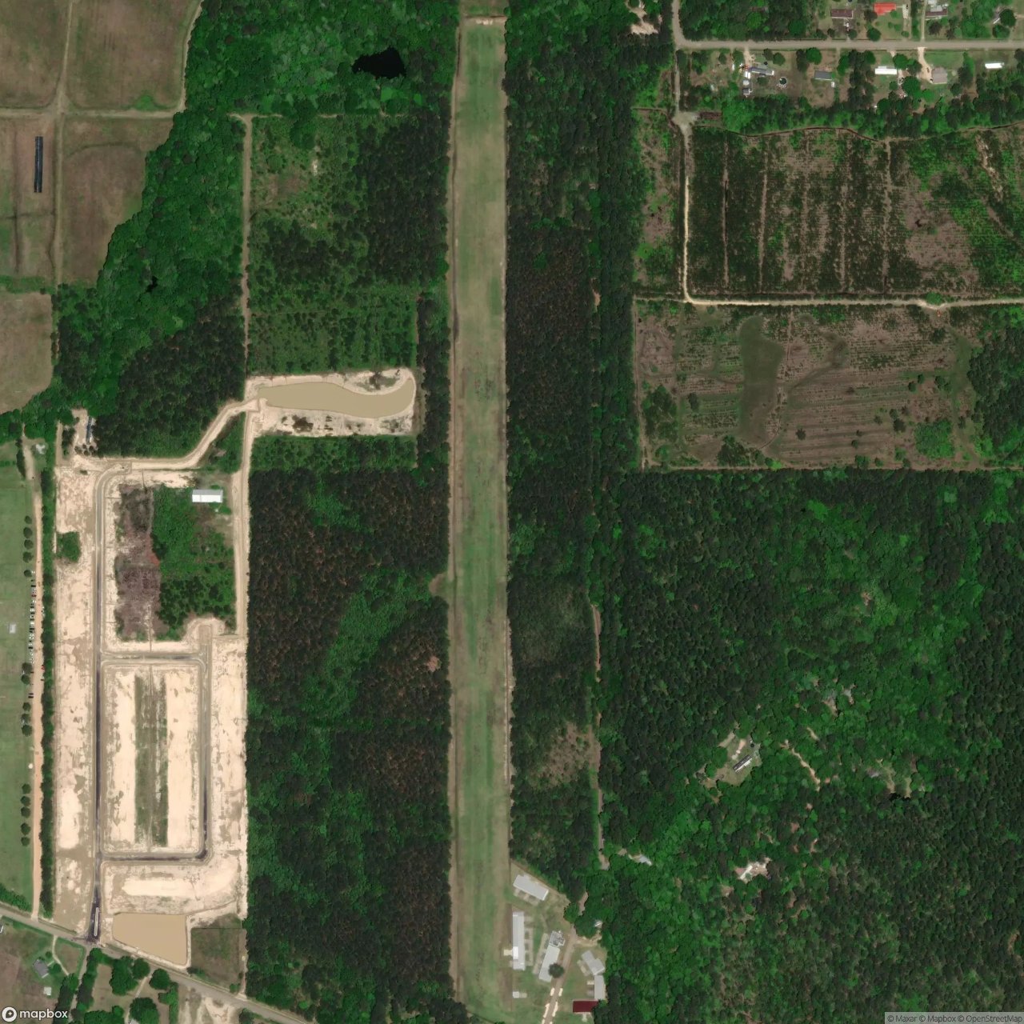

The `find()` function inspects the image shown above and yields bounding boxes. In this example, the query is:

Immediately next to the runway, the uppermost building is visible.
[514,875,547,900]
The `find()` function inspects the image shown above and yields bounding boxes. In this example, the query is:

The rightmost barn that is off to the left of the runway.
[191,489,222,503]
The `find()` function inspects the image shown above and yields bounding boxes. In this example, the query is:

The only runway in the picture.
[446,21,510,1010]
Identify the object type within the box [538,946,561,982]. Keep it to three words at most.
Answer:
building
